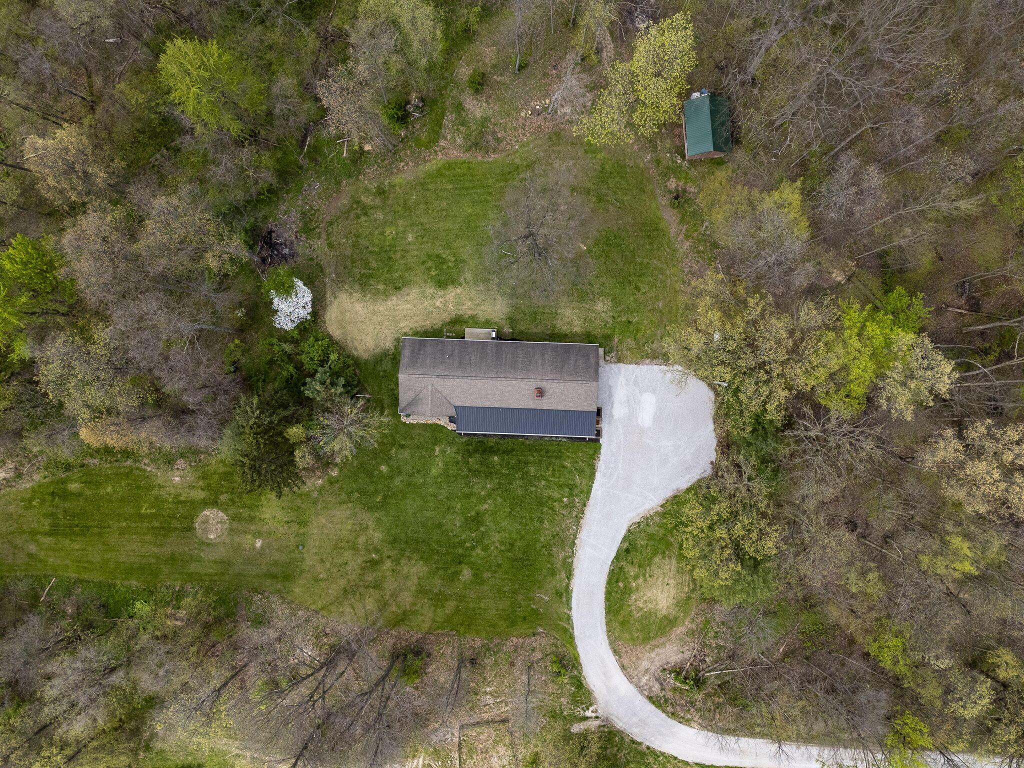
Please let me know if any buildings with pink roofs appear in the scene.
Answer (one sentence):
No, the photo shows no building with a pink roof.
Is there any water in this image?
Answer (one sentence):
No, there is no water in the image.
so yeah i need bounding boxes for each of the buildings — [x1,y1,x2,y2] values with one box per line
[398,328,599,442]
[679,94,731,163]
